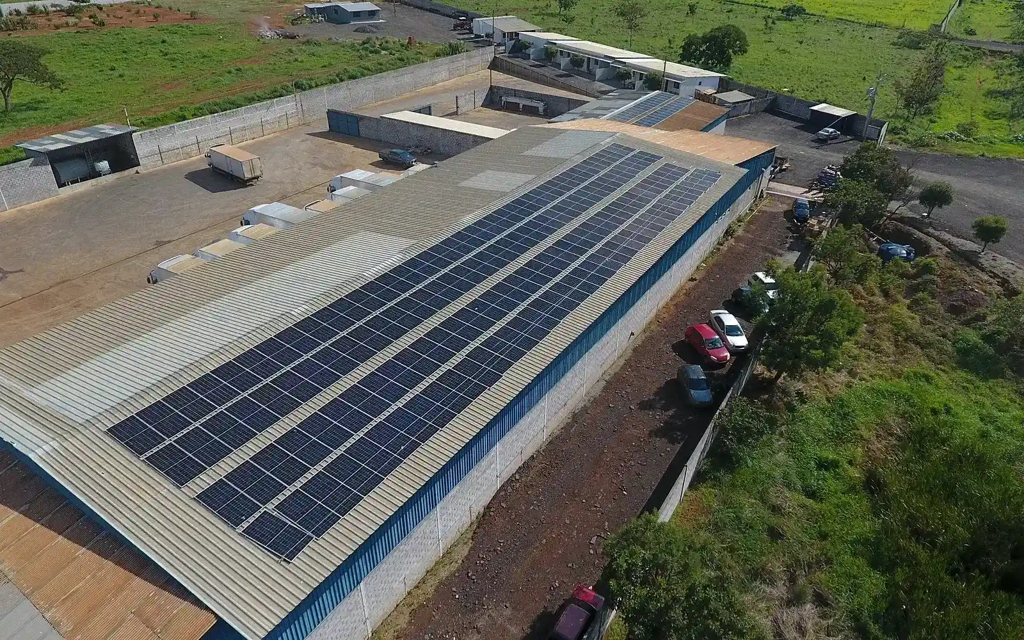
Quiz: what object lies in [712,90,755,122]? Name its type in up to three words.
shed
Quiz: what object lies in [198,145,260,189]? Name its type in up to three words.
truck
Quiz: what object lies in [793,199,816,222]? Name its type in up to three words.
car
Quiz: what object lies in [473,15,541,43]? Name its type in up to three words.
building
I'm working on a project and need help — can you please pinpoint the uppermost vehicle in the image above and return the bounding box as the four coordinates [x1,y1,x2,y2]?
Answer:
[454,17,470,31]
